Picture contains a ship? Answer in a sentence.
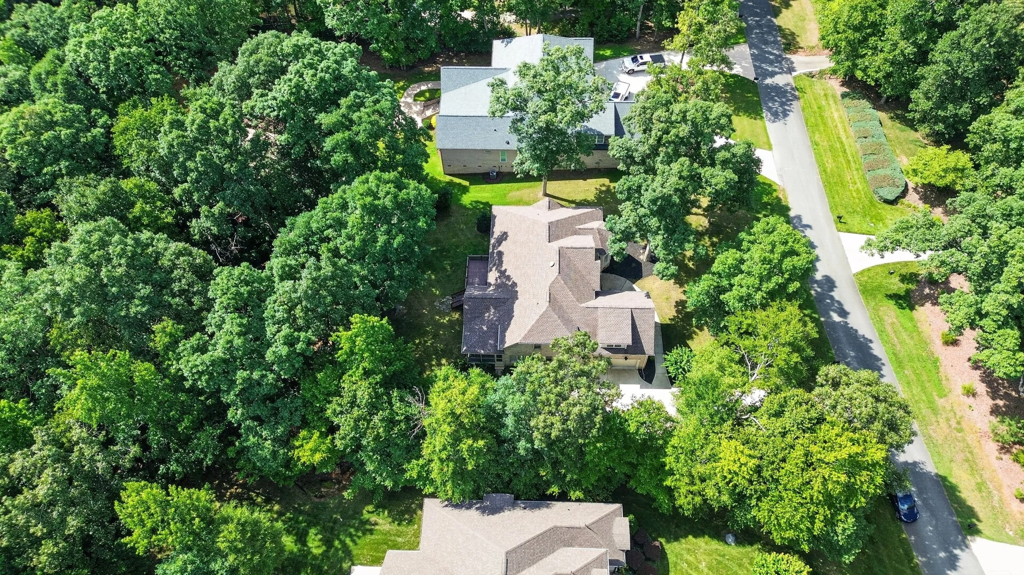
No, I can see no ship in this picture.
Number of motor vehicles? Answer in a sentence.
Altogether the scene contains 3 motor vehicles.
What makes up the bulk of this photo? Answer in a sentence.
The bulk of the photo consists of trees.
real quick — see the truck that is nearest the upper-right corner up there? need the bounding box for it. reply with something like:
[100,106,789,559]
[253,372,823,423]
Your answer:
[622,49,669,73]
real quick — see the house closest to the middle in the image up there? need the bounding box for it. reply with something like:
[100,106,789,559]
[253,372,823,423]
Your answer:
[461,198,655,377]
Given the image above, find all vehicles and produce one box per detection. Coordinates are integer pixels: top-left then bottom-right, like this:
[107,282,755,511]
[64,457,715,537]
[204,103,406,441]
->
[895,479,923,522]
[607,74,633,100]
[622,49,669,73]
